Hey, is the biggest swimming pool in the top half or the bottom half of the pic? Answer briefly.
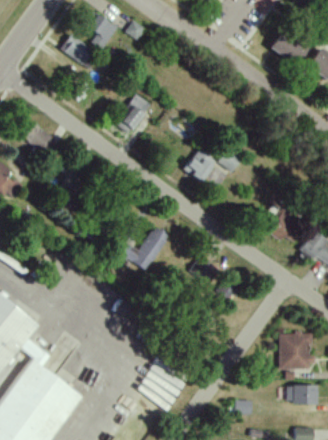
top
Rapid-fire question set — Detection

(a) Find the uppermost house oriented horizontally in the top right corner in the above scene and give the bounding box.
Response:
[272,40,310,58]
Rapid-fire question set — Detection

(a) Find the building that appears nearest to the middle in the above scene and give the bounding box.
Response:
[124,228,167,270]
